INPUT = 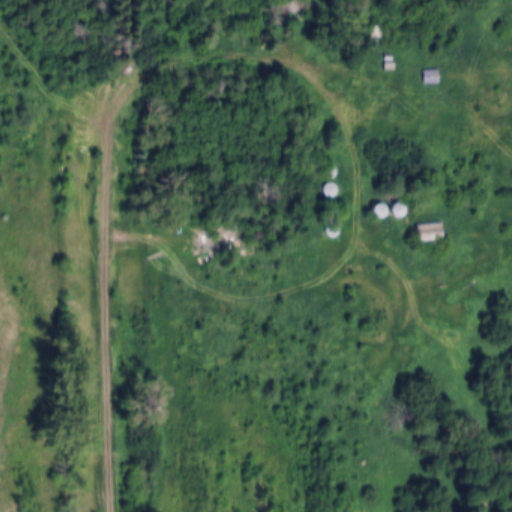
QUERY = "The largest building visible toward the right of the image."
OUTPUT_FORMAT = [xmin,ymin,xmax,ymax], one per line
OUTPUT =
[418,222,444,241]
